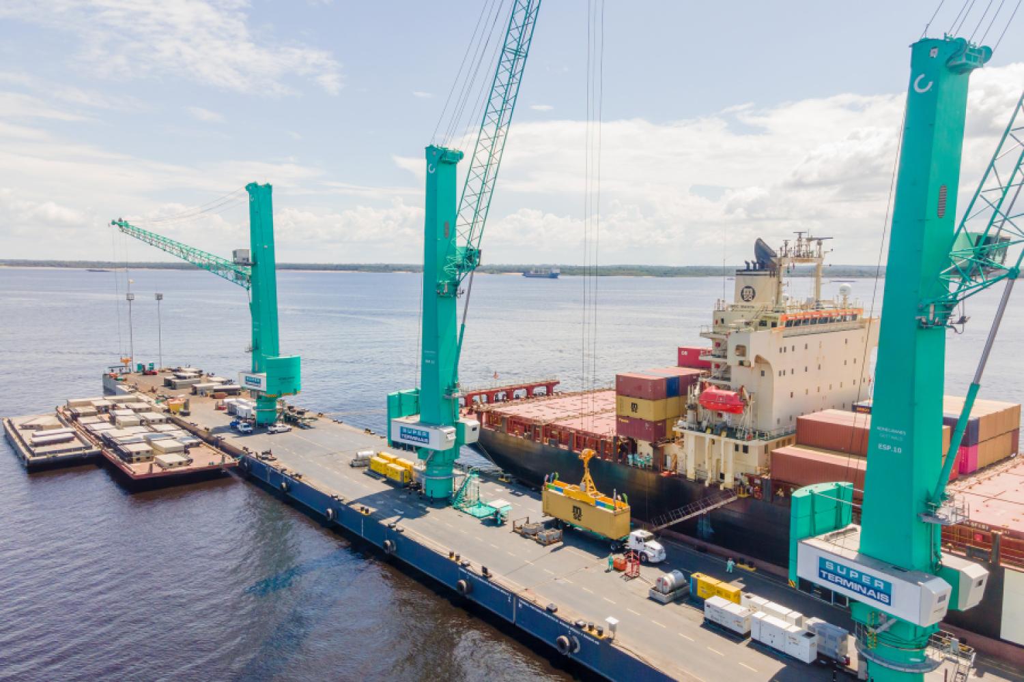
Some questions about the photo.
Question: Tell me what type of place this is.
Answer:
port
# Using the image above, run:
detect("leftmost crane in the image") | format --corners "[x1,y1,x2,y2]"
[107,183,310,423]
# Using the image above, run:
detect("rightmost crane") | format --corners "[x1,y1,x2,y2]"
[779,0,1024,682]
